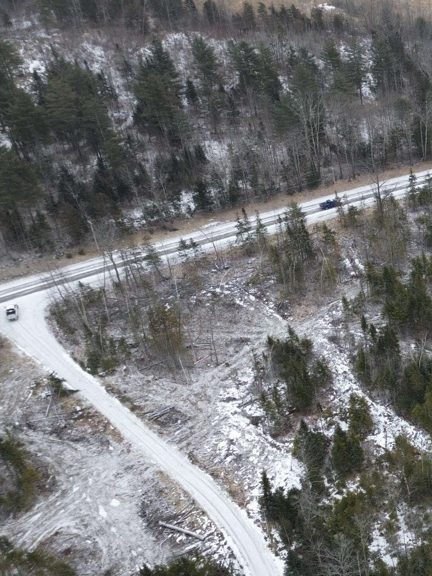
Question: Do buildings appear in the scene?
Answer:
No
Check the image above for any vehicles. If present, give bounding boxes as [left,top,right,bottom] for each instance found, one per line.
[319,200,342,211]
[2,303,19,319]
